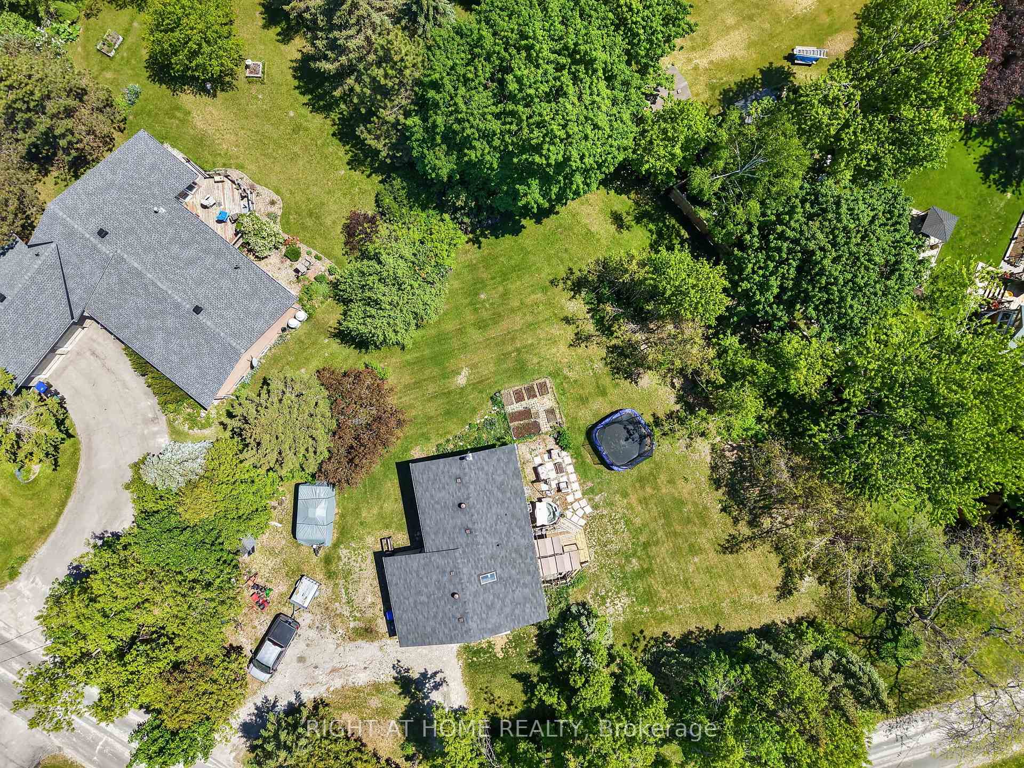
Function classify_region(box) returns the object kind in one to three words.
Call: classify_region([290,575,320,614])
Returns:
trailer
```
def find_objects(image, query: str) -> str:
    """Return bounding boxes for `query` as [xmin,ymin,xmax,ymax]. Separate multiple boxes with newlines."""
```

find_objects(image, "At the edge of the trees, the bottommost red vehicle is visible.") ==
[248,588,273,612]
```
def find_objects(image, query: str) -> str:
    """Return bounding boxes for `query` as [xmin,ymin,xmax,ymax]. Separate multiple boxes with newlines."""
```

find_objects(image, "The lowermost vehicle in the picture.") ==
[250,608,302,683]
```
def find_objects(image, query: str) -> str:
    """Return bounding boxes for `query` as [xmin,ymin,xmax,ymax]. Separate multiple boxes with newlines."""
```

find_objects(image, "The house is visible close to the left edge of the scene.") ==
[0,129,309,412]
